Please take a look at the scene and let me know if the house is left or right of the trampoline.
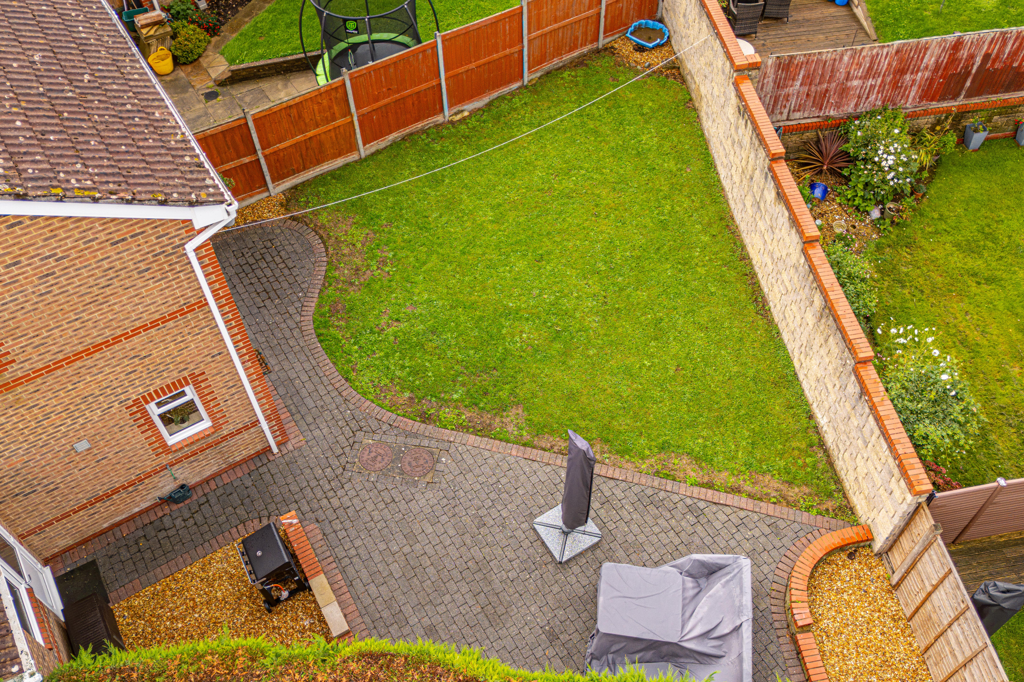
on its left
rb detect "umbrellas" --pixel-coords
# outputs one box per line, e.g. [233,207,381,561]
[532,432,602,566]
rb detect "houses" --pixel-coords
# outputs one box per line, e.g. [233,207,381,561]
[0,0,290,682]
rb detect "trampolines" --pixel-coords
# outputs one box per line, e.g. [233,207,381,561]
[307,0,430,87]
